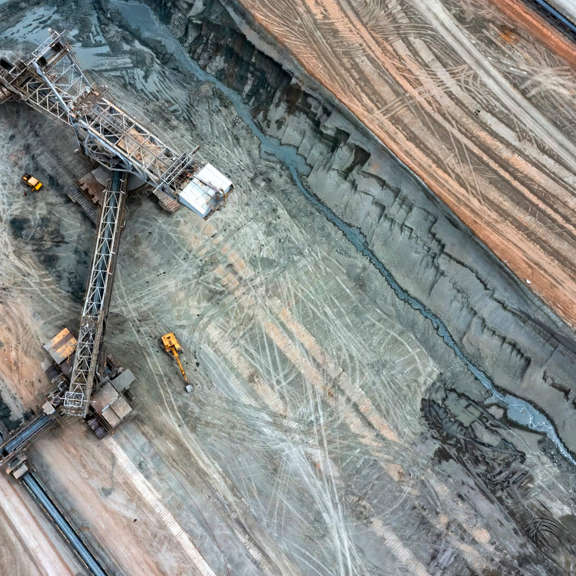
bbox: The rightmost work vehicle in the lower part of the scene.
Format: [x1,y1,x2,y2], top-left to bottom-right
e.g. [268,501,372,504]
[158,335,194,400]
